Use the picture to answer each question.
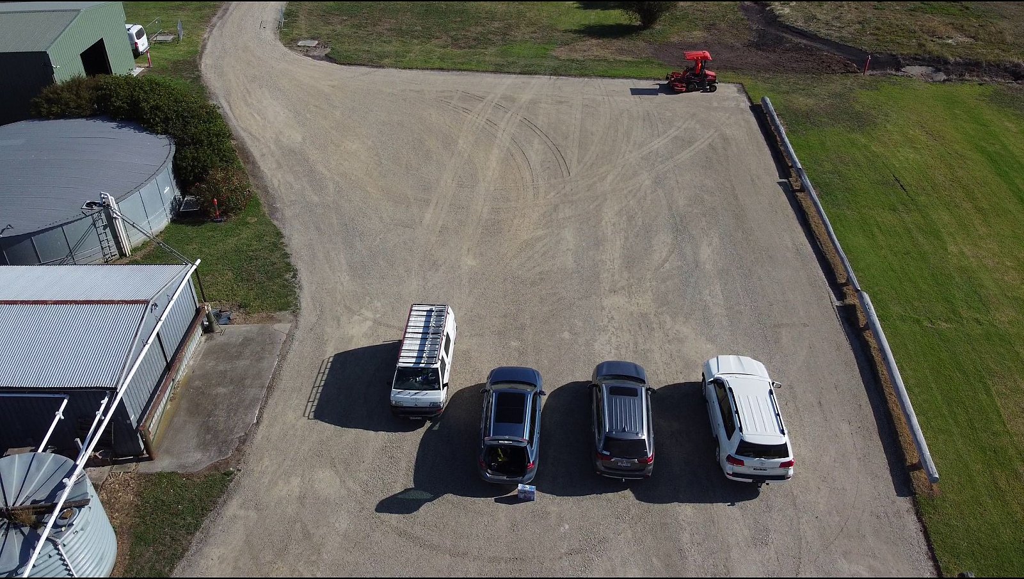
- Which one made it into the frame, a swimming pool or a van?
van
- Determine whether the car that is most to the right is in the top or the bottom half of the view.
bottom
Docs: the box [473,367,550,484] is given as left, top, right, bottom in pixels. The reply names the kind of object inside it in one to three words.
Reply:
car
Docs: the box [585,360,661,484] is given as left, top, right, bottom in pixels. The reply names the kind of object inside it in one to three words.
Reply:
car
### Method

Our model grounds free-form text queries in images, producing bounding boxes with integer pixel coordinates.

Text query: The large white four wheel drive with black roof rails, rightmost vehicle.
[699,357,796,490]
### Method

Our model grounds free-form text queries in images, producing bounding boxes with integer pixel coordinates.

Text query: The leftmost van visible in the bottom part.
[384,298,459,417]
